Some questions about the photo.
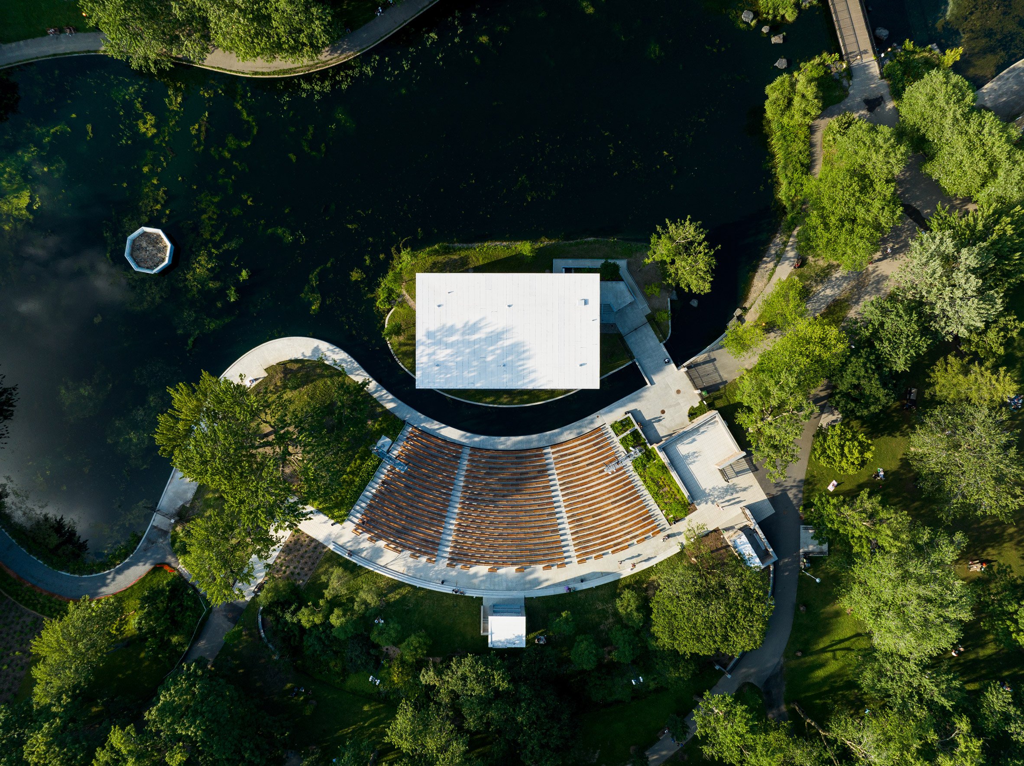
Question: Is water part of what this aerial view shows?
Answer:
Yes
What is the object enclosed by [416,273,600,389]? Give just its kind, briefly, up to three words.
house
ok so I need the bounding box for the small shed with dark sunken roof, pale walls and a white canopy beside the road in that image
[723,504,778,568]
